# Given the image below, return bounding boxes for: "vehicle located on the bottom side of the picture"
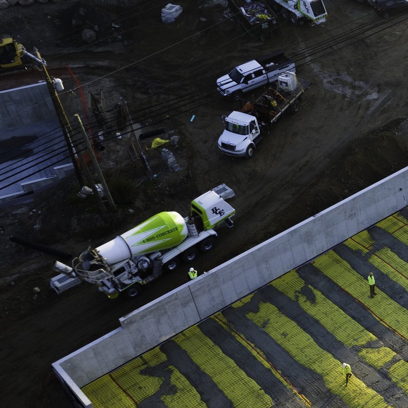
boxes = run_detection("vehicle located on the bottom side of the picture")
[61,194,247,305]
